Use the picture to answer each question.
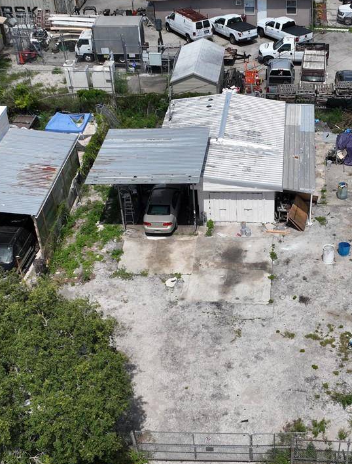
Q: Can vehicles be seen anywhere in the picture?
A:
Yes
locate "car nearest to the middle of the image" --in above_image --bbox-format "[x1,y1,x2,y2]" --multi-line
[141,187,196,236]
